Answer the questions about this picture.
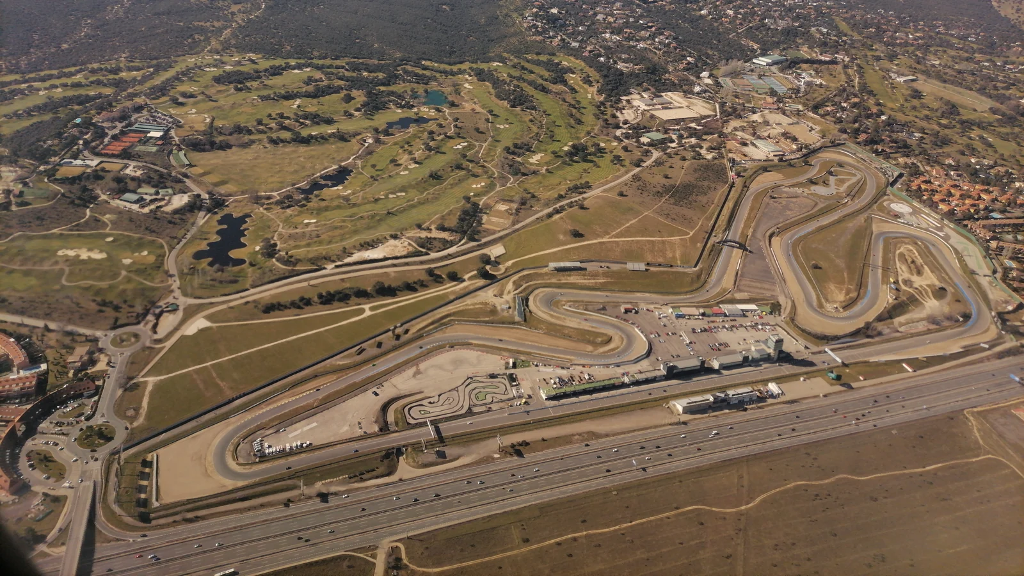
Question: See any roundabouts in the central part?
No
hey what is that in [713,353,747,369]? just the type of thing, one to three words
building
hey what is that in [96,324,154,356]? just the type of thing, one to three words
roundabout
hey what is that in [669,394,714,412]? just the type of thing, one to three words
building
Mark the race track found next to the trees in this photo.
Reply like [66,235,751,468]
[210,158,990,481]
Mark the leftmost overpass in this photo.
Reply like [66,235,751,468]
[57,465,101,576]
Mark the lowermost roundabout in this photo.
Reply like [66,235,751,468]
[58,413,133,460]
